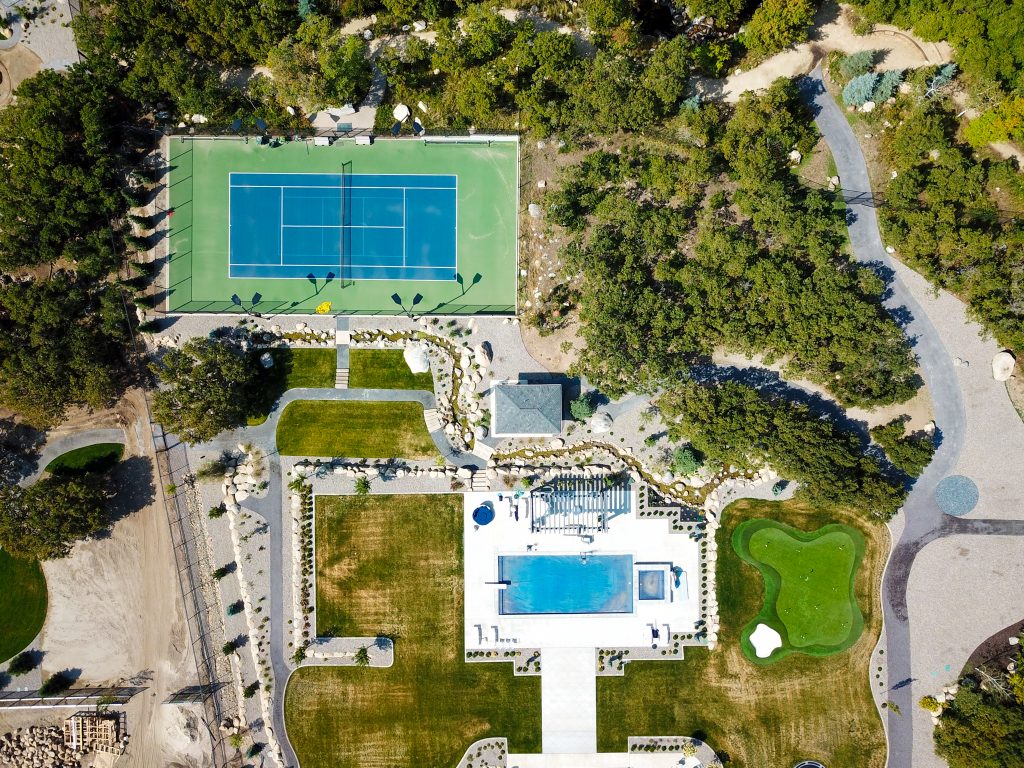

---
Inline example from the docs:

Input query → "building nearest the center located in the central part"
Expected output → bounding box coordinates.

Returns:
[495,384,562,434]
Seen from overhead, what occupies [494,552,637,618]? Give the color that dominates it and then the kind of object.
blue swimming pool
